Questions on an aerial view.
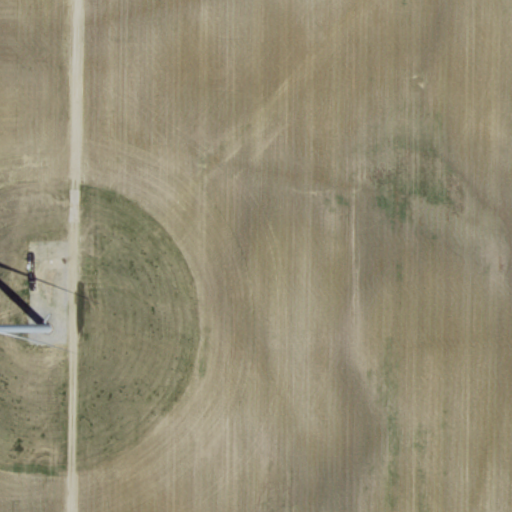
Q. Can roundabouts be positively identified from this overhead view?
No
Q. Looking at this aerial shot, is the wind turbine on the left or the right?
left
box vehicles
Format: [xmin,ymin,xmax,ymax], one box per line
[28,272,36,290]
[27,252,34,271]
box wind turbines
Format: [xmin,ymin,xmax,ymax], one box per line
[0,314,71,350]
